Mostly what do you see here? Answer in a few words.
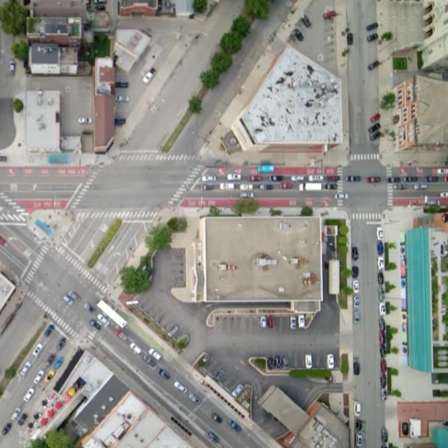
paved ground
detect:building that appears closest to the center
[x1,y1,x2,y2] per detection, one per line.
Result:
[195,216,322,311]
